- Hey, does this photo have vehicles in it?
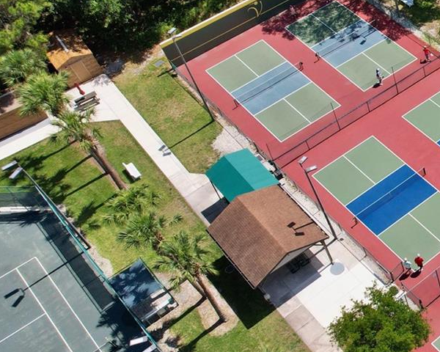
No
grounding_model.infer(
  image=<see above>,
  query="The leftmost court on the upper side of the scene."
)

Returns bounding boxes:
[204,40,341,142]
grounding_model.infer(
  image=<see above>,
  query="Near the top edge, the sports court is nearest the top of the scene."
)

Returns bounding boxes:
[284,0,416,91]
